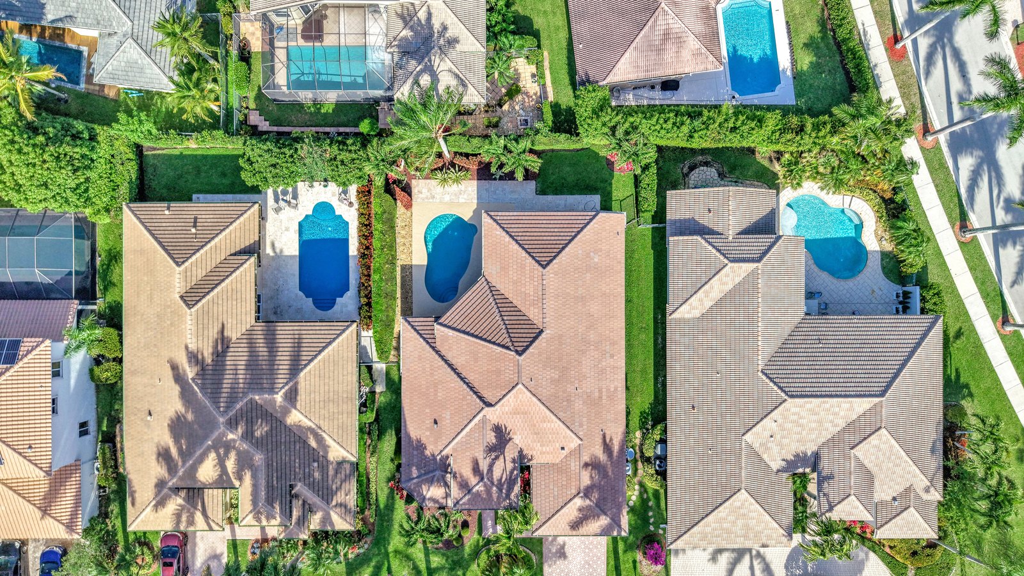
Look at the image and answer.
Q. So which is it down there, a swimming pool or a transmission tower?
swimming pool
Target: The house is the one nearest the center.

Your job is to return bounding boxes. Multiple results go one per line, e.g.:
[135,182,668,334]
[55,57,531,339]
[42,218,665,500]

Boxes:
[400,210,629,537]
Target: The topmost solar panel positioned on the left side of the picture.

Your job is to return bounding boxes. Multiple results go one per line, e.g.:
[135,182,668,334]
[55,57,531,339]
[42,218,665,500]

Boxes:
[0,339,26,374]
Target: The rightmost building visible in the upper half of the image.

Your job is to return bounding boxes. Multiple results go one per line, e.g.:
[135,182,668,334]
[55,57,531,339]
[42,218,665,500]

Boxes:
[566,0,724,89]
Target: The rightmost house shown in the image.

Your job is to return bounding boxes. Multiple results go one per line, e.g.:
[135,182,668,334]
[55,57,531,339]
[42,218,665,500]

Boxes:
[665,187,946,550]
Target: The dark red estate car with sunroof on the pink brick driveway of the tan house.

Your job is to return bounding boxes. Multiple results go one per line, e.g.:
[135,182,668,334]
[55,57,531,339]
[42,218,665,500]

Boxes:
[159,533,192,576]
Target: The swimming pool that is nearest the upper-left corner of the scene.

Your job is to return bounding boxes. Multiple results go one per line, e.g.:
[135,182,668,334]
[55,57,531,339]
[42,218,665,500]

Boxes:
[0,30,87,91]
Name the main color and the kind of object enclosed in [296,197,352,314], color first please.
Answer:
blue swimming pool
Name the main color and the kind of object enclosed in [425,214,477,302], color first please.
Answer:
blue swimming pool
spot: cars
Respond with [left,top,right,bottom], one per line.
[159,533,192,576]
[0,542,30,576]
[38,544,68,576]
